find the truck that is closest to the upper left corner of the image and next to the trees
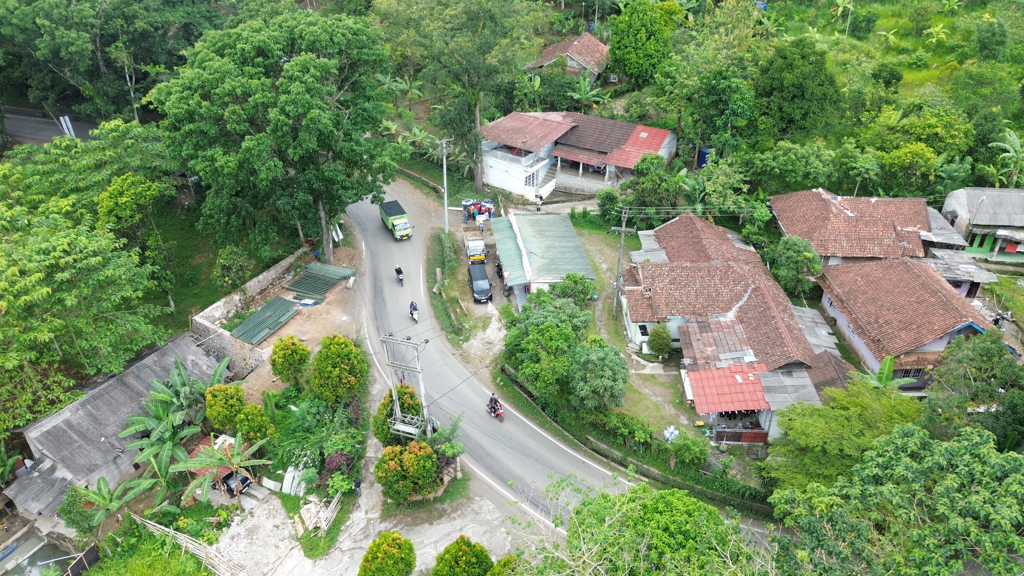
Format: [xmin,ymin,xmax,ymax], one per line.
[377,197,414,241]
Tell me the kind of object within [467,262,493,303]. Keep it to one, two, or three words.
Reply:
vehicle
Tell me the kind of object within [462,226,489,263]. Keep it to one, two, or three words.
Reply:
truck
